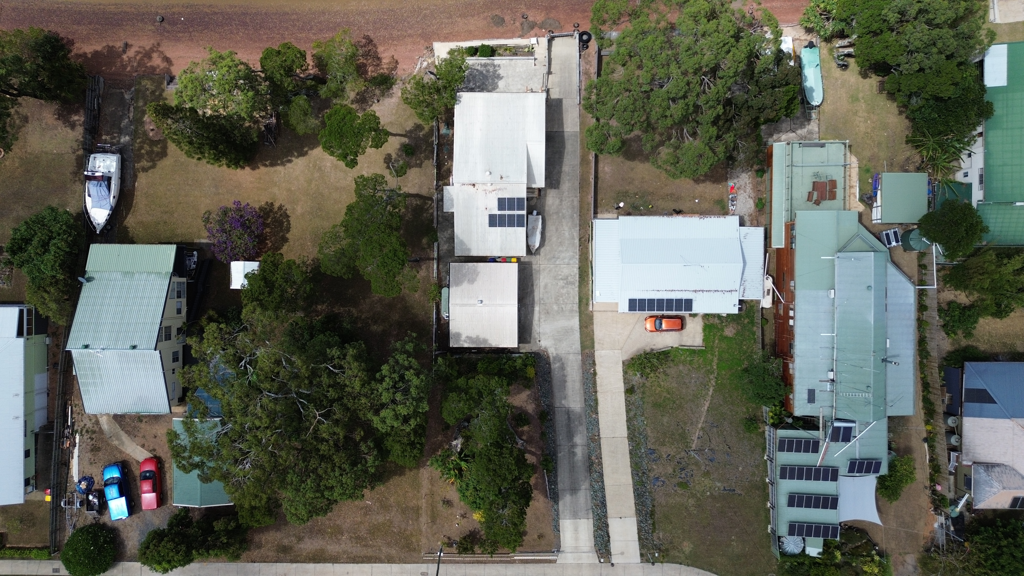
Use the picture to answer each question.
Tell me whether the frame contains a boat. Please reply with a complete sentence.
Yes, a boat is visible in the scene.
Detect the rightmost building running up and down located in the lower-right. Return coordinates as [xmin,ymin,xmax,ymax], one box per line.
[957,360,1024,510]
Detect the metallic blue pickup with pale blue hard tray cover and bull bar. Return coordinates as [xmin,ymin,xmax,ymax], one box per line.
[102,460,133,519]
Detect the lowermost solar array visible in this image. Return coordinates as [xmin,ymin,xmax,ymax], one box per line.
[786,520,840,538]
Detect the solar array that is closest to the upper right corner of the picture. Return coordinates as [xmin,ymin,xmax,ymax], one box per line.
[883,228,901,247]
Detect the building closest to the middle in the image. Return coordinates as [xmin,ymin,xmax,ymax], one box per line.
[449,261,519,349]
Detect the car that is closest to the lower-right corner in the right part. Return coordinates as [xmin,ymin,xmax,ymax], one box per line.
[643,315,684,334]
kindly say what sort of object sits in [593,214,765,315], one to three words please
house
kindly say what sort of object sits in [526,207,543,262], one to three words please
boat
